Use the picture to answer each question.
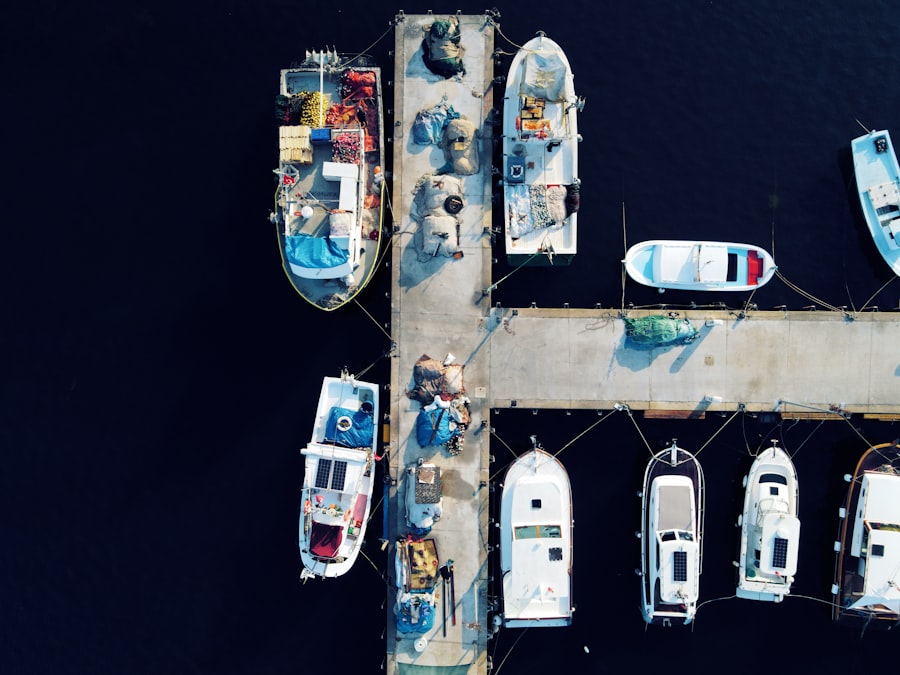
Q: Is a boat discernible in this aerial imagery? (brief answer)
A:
Yes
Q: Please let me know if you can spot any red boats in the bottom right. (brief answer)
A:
No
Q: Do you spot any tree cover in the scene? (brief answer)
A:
No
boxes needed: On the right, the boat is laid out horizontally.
[624,239,778,292]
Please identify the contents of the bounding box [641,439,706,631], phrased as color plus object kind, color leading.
white boat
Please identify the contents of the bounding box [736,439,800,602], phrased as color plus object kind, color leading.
white boat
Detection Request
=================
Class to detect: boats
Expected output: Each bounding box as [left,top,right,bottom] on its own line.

[641,439,706,631]
[736,439,800,602]
[835,439,900,626]
[498,434,575,628]
[298,367,380,580]
[849,129,900,279]
[275,46,385,311]
[503,32,587,266]
[624,239,778,292]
